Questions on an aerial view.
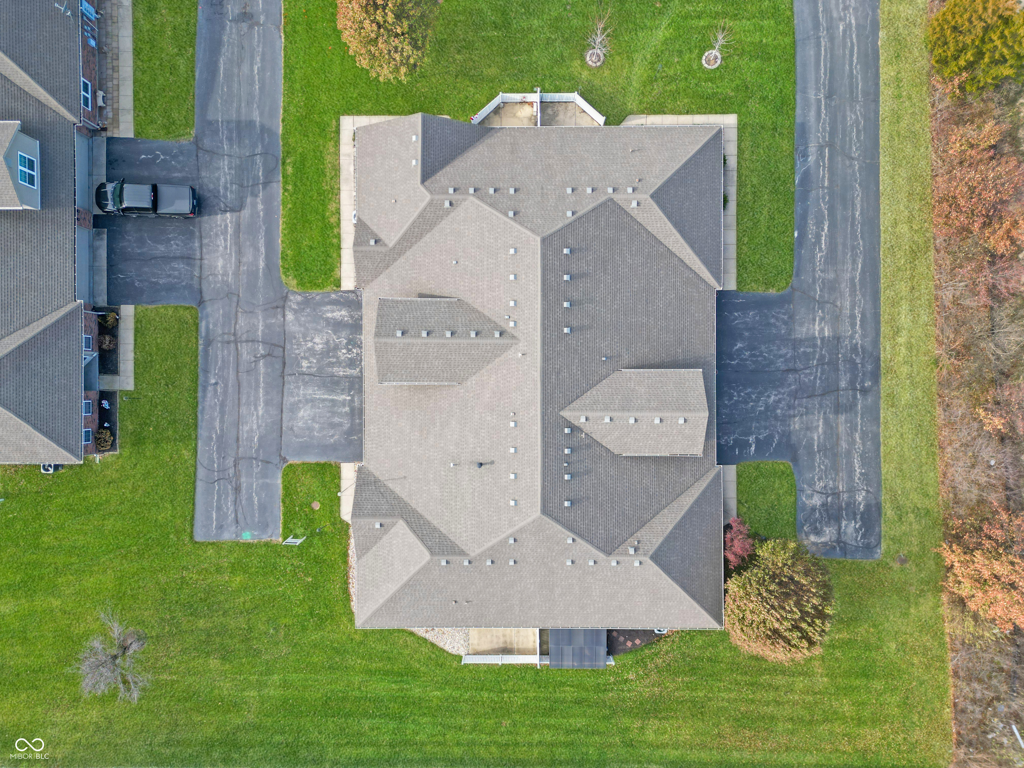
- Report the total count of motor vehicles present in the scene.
1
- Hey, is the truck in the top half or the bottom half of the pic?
top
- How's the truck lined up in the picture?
horizontally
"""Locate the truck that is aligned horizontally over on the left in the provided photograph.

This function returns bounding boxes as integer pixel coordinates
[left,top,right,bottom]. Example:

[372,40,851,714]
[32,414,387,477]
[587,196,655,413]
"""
[94,173,200,220]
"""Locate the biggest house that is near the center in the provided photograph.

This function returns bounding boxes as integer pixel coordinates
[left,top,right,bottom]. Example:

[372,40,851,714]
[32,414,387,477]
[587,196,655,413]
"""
[349,111,724,629]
